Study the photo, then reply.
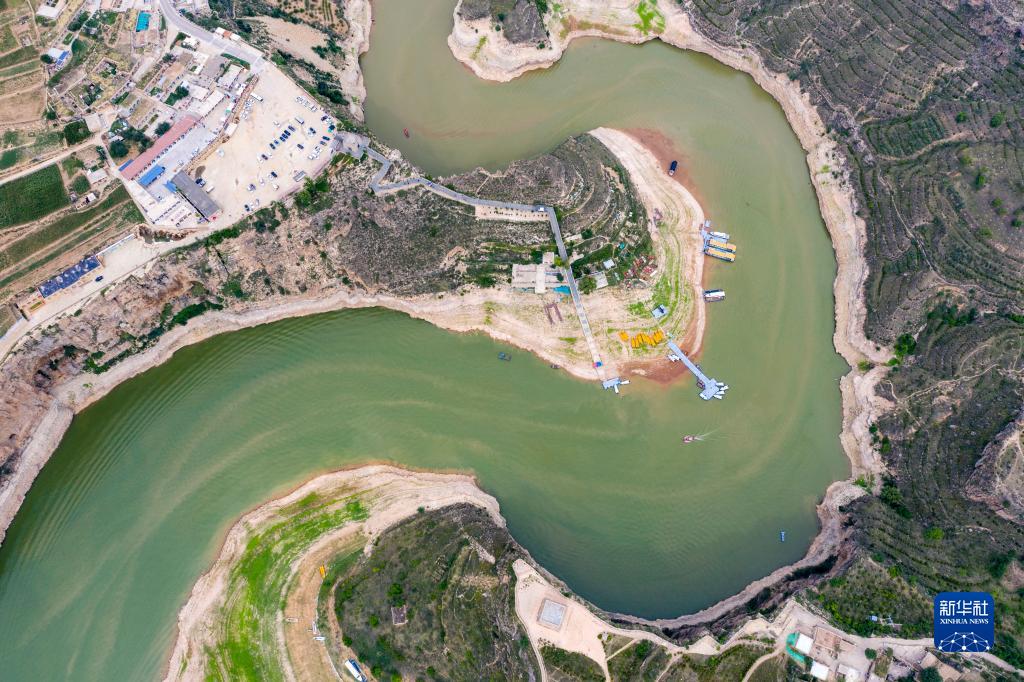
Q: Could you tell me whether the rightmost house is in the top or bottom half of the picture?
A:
bottom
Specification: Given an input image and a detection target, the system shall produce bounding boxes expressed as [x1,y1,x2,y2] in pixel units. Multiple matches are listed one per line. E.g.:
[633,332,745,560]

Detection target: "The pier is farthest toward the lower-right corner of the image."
[667,341,719,400]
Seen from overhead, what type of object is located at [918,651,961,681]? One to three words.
house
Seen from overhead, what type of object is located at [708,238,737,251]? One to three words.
boat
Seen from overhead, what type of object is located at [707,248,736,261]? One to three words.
boat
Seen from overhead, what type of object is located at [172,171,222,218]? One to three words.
barn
